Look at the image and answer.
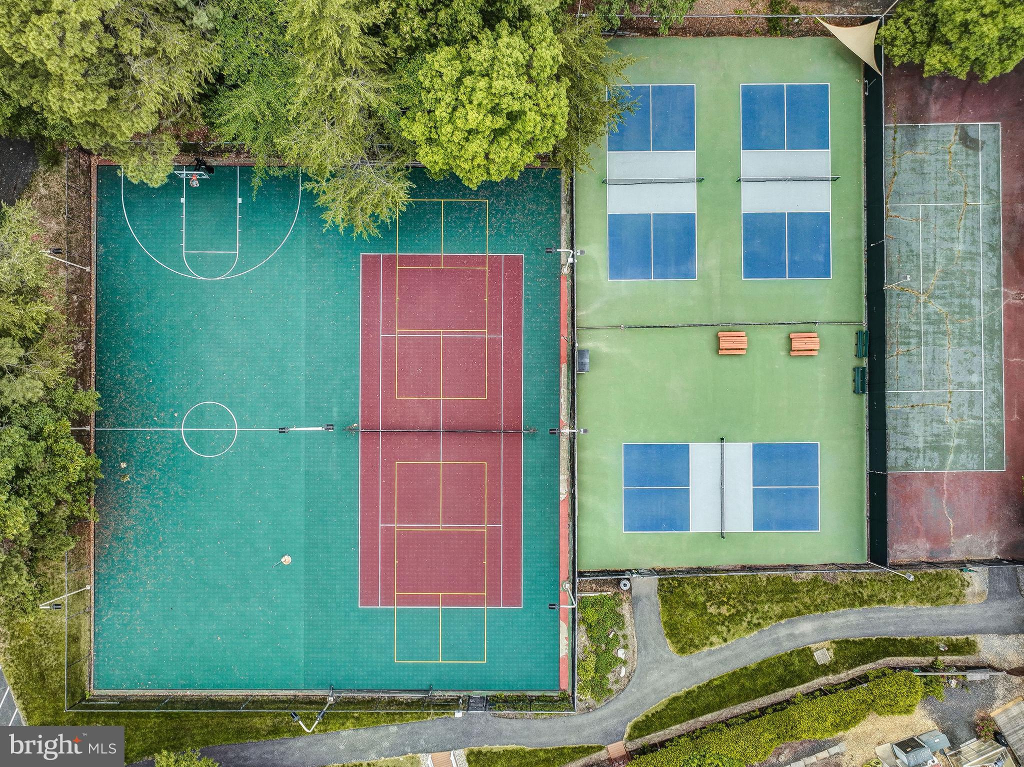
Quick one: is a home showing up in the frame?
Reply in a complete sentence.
No, I can't see a single home in this photo.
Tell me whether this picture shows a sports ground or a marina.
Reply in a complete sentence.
What you see here is a sports ground.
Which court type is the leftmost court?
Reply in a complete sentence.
Specifically, the leftmost court is a basketball court.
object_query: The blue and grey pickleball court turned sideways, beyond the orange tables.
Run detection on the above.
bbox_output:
[623,443,820,533]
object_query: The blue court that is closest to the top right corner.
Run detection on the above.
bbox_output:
[741,83,831,279]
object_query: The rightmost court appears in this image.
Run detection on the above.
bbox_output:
[868,0,1024,560]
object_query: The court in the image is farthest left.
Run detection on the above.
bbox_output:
[94,166,304,690]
